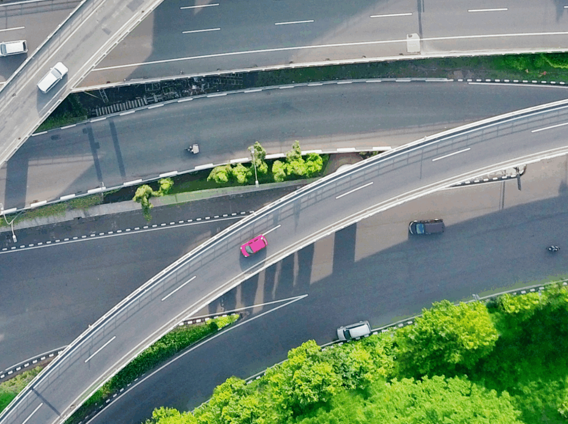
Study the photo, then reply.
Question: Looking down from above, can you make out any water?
No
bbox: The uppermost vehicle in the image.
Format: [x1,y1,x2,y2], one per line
[0,38,29,56]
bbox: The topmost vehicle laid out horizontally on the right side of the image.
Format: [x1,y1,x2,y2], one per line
[408,219,445,235]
